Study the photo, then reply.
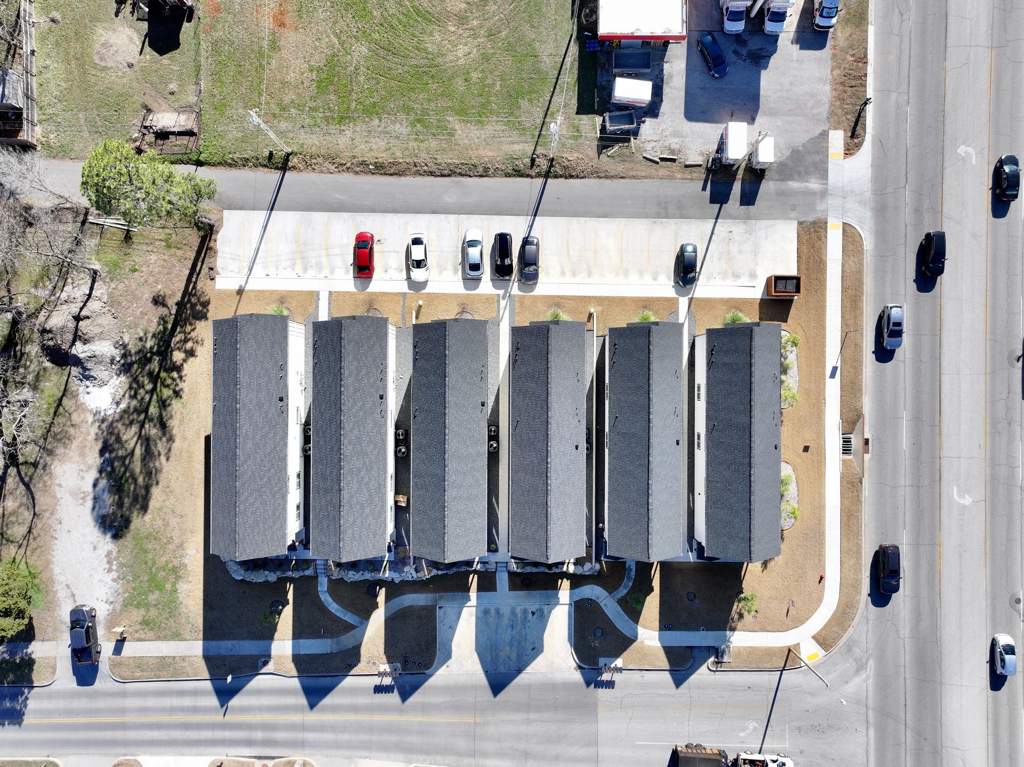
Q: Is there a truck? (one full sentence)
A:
Yes, there's a truck here.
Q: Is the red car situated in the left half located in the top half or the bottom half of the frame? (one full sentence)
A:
The red car situated in the left half sits in the top half of the picture.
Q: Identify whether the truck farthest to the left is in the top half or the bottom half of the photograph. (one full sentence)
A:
The bottom half of the photo is where the truck farthest to the left is.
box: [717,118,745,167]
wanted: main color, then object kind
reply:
white trailer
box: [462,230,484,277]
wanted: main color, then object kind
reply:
white car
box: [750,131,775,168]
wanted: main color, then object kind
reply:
white trailer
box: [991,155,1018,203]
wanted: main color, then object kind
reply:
black car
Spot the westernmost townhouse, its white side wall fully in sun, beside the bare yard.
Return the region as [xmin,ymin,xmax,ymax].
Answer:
[210,313,305,561]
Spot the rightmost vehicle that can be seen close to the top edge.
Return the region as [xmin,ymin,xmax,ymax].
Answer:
[811,0,842,35]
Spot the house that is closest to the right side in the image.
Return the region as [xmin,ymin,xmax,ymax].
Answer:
[693,320,782,563]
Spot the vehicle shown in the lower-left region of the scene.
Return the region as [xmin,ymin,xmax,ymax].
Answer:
[70,605,102,665]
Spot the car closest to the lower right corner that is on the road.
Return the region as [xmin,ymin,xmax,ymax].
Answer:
[988,633,1015,676]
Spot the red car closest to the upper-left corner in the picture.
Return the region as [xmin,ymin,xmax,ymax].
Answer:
[353,233,375,279]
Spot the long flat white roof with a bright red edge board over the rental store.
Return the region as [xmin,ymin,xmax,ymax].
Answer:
[597,0,688,51]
